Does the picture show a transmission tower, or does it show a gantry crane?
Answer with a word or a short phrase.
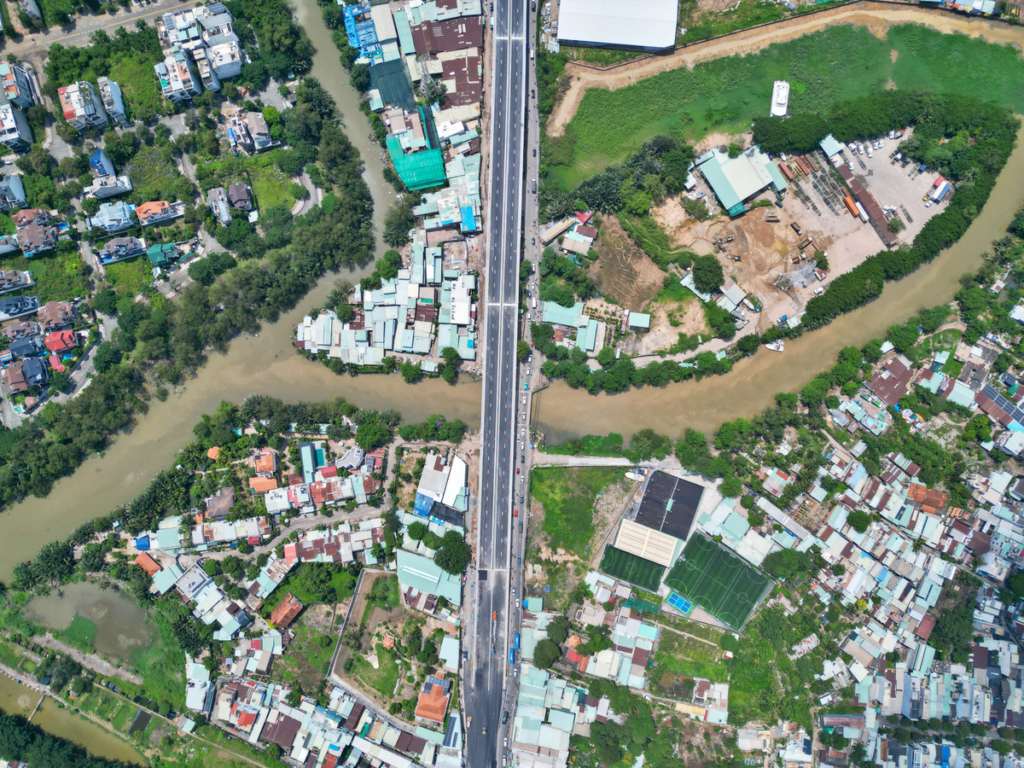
transmission tower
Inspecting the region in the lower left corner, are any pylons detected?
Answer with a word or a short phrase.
No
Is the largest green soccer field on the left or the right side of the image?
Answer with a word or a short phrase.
right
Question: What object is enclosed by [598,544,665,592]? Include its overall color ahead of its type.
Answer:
green soccer field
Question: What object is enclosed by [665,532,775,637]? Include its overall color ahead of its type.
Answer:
green soccer field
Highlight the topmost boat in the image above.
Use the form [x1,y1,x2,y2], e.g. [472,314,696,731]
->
[772,81,789,116]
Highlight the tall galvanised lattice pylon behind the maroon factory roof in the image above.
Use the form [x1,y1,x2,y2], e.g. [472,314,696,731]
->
[410,52,442,108]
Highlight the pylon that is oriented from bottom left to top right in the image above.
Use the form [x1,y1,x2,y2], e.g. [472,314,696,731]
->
[769,261,823,299]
